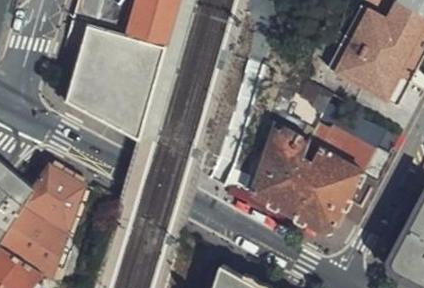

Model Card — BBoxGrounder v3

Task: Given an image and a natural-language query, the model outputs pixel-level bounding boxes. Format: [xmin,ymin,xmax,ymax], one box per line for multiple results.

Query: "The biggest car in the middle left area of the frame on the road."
[63,128,82,142]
